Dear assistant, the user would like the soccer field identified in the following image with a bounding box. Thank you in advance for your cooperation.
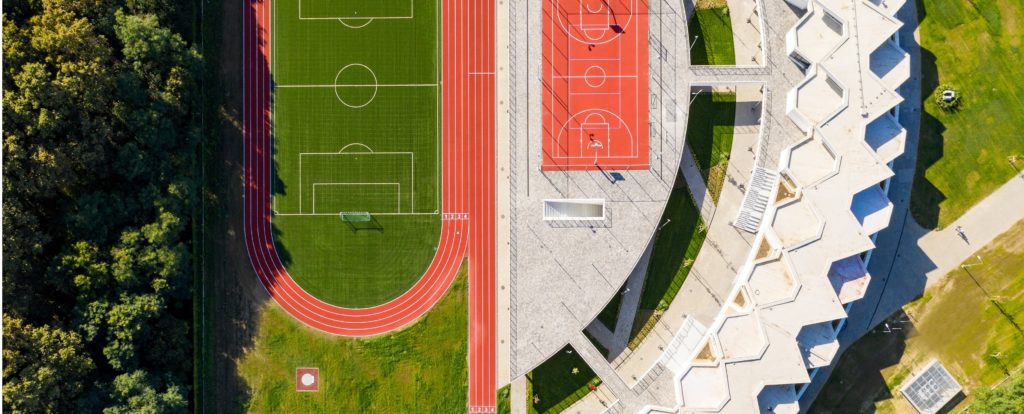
[270,0,442,307]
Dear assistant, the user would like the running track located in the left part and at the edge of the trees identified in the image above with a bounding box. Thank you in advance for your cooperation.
[242,0,497,414]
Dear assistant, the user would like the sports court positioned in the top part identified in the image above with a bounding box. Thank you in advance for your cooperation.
[542,0,650,171]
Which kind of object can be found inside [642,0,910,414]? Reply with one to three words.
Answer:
building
